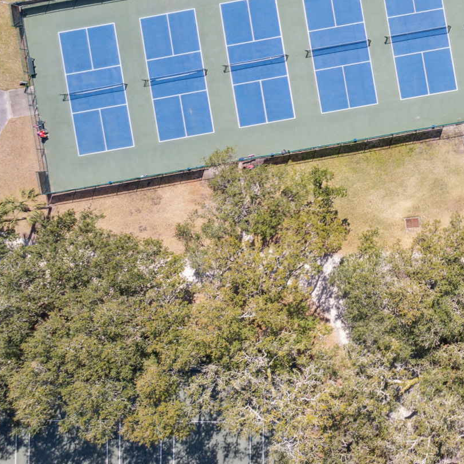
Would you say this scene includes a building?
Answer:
No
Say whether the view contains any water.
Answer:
No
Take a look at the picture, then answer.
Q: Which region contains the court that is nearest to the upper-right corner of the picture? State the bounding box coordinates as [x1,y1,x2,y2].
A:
[384,0,456,99]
